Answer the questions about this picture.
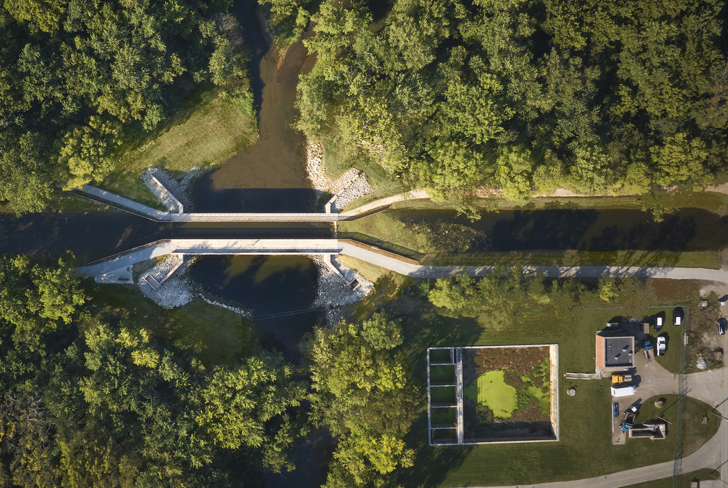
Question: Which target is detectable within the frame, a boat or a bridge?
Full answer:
There is a bridge in the scene.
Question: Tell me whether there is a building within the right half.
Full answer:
Yes, the scene does show a building within the right half.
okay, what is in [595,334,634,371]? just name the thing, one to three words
building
